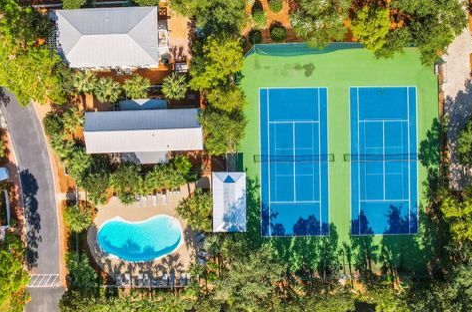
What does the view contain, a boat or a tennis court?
tennis court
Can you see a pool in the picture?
Yes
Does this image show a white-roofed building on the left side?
Yes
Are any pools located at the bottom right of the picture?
No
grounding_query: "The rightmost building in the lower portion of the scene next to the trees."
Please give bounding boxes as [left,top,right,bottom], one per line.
[213,172,246,232]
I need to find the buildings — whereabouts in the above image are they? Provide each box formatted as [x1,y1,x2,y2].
[213,172,246,232]
[78,101,203,164]
[56,8,173,71]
